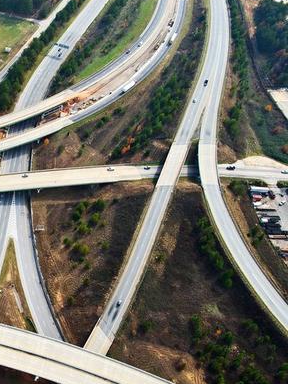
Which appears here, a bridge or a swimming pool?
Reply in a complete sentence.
The one in the frame is a bridge.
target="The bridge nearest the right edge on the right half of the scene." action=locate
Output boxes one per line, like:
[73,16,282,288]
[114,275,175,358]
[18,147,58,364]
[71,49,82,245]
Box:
[197,142,220,184]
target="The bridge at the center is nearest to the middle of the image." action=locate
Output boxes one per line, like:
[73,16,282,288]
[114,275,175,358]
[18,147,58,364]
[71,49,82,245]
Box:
[157,141,190,185]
